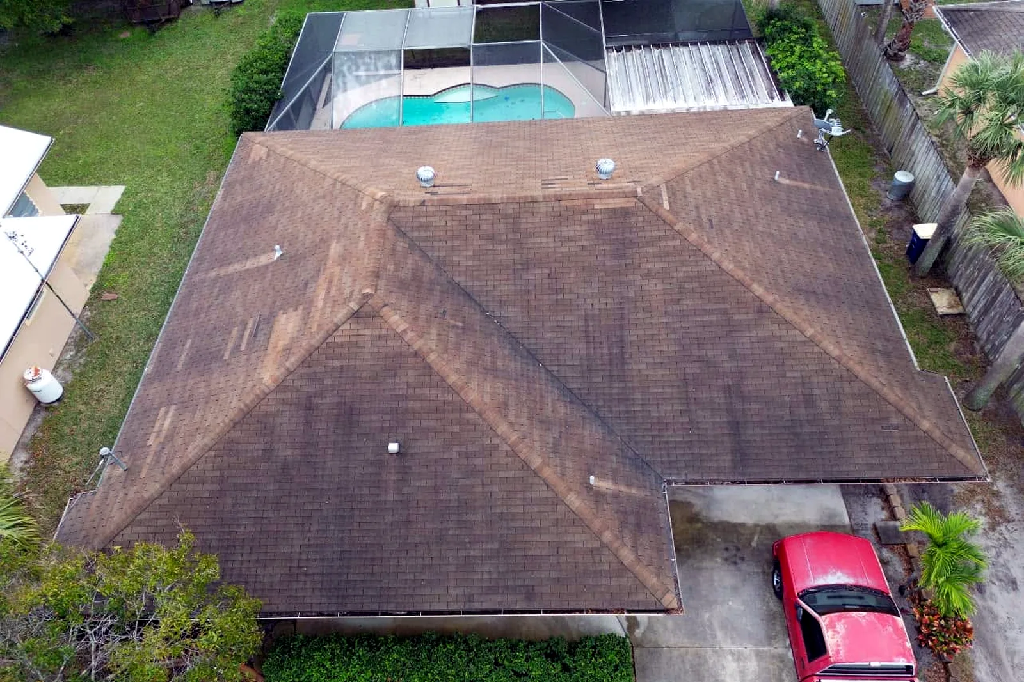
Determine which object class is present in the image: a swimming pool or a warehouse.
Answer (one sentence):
The image shows a swimming pool.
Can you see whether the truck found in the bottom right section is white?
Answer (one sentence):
No, the truck found in the bottom right section is red.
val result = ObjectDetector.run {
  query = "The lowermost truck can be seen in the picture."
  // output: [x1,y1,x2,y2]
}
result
[767,534,915,682]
